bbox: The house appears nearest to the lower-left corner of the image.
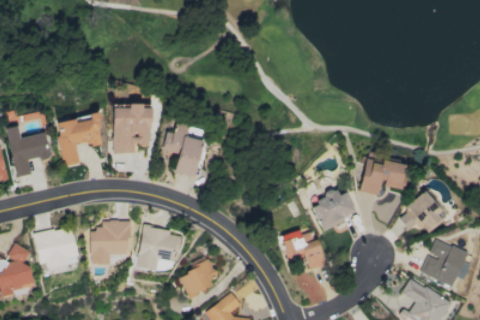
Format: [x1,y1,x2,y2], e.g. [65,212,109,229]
[0,243,35,298]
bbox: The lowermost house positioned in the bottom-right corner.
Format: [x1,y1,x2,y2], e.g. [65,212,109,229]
[398,279,452,320]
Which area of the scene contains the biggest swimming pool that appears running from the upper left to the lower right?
right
